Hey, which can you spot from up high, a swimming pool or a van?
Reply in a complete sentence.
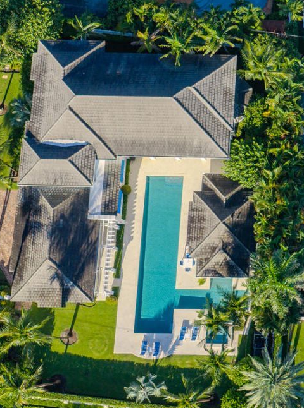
There is a swimming pool in the scene.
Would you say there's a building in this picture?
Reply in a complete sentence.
Yes, a building is visible in the scene.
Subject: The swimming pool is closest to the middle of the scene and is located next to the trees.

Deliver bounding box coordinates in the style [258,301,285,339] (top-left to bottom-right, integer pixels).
[131,174,249,337]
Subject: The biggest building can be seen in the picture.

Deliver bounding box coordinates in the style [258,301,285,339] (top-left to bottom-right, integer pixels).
[8,39,240,308]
